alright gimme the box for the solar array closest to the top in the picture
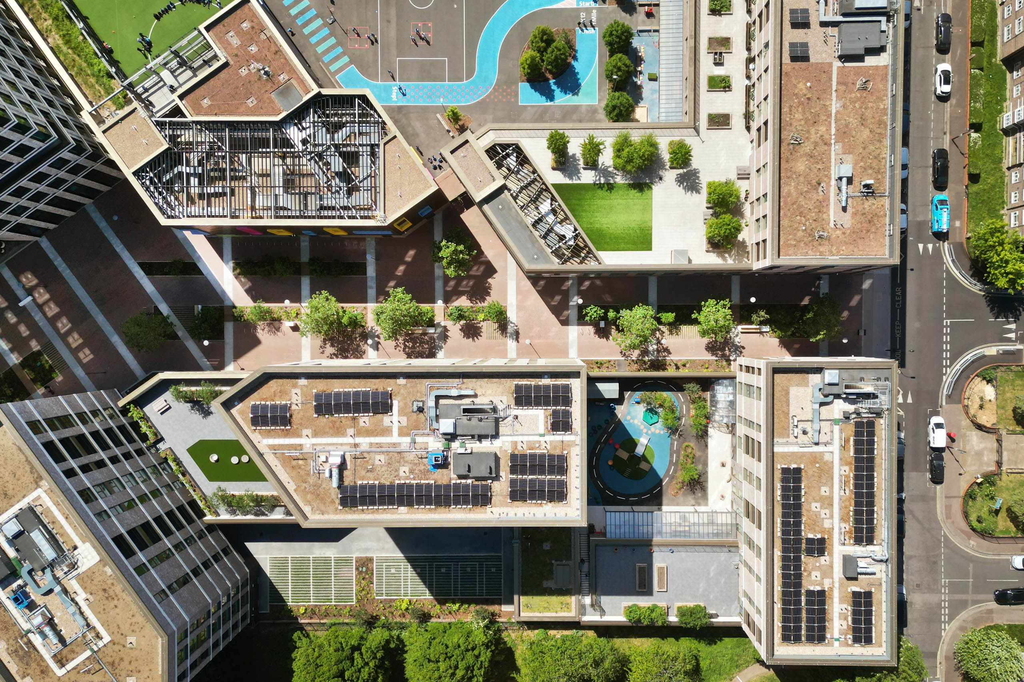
[788,7,810,23]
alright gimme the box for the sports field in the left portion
[67,0,235,87]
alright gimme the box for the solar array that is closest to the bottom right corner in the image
[847,588,875,645]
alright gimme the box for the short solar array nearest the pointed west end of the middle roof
[250,400,292,430]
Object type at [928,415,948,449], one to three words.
vehicle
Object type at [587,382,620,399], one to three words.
shed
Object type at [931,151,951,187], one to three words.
car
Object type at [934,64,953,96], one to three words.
car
